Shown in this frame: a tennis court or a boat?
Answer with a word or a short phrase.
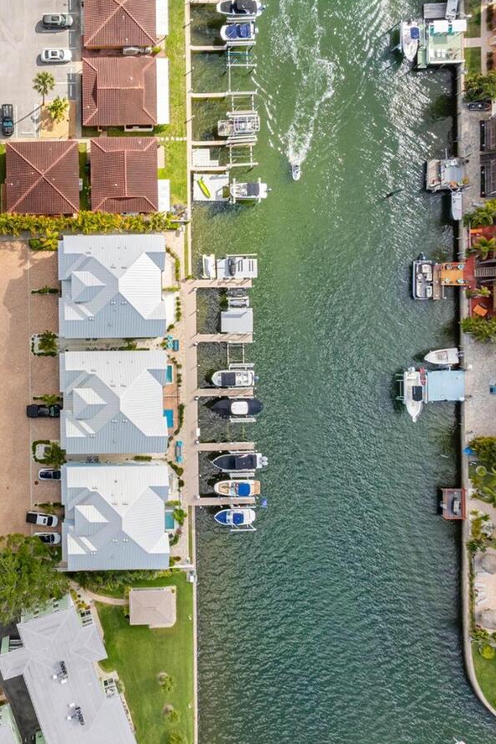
boat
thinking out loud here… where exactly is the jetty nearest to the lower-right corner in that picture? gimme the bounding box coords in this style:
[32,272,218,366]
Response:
[437,486,466,520]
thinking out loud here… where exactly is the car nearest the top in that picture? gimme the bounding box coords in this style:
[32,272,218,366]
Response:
[42,15,72,31]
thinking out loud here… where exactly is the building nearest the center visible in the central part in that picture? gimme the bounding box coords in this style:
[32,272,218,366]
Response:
[216,309,253,332]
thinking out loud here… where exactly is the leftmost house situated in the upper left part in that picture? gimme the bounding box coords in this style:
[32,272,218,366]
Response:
[4,139,80,215]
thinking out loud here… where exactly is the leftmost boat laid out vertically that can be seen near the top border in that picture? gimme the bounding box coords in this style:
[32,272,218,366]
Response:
[401,16,419,60]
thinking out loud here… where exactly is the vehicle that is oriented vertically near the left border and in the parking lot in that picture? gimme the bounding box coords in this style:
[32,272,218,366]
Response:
[0,102,16,140]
